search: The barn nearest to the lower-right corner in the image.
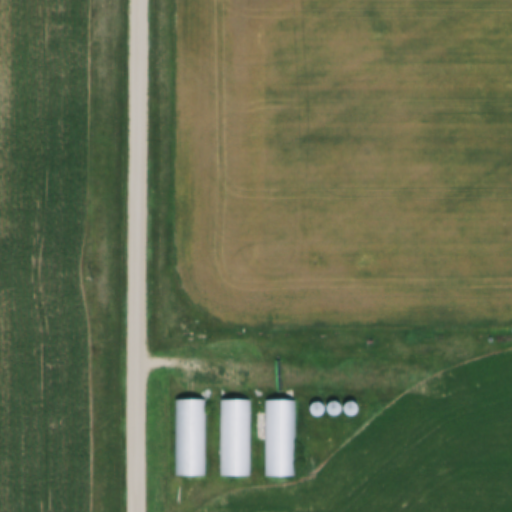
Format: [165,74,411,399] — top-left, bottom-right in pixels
[266,400,296,478]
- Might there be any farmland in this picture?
Yes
